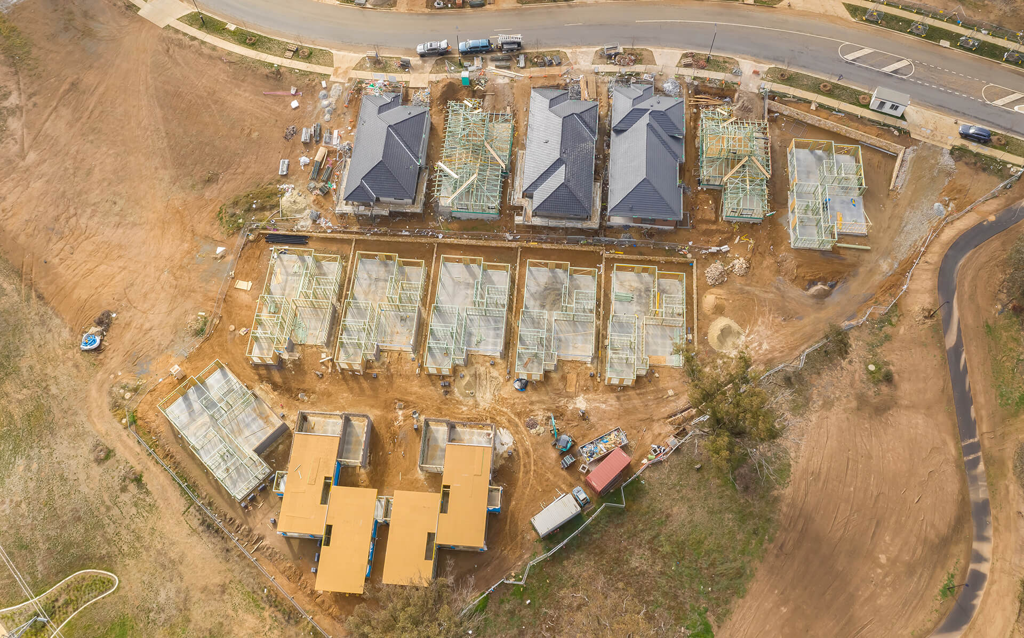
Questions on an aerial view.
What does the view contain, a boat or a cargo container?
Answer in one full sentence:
There is a cargo container in the scene.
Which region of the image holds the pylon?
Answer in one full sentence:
The pylon sits in the bottom left section of the image.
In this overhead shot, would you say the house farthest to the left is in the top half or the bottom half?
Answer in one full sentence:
You can find the house farthest to the left in the bottom half.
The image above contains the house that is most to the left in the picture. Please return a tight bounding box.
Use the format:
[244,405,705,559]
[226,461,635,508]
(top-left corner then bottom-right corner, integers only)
[157,360,286,500]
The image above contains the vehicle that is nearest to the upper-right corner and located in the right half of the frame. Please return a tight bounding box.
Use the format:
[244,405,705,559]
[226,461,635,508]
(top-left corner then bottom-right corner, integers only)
[960,122,995,141]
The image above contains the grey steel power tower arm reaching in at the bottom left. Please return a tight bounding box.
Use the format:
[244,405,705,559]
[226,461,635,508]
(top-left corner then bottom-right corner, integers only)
[7,615,48,638]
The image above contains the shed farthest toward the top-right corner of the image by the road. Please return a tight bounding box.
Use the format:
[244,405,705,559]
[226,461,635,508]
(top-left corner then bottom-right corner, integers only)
[871,86,910,116]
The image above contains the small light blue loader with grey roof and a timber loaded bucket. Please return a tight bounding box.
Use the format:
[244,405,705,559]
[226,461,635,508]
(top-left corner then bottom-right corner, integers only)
[570,483,595,515]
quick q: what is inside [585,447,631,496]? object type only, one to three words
shipping container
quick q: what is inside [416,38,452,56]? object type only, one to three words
vehicle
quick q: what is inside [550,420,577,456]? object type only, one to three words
work vehicle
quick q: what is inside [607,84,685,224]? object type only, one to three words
house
